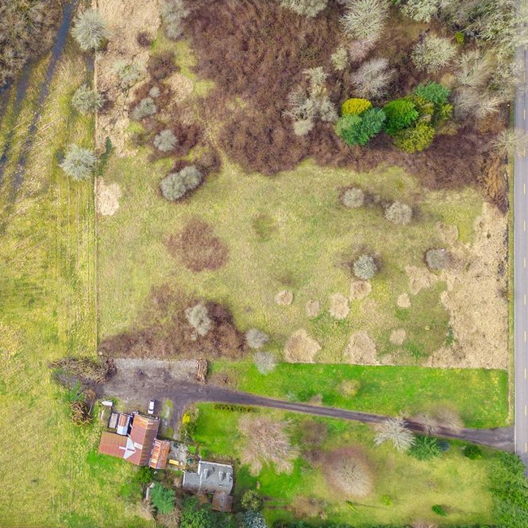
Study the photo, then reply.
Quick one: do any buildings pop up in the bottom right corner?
No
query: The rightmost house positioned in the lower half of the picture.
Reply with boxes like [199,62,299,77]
[182,454,234,506]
